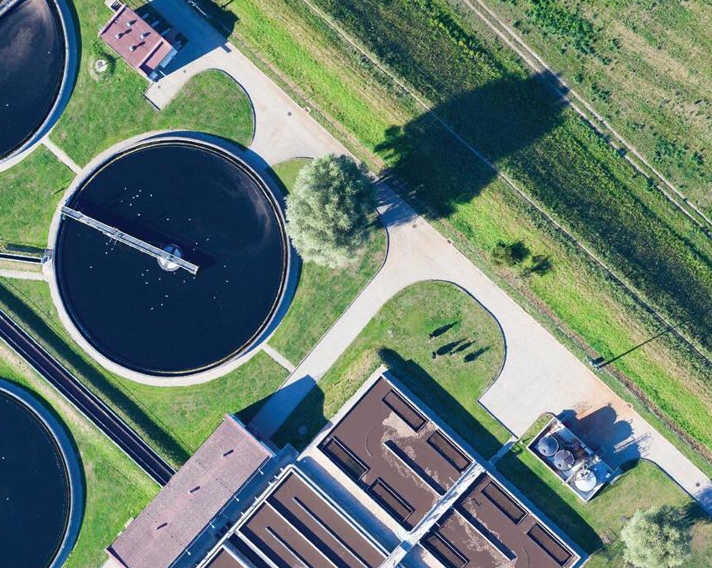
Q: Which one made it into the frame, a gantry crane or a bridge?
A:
bridge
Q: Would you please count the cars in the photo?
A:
0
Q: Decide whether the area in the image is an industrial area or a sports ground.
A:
industrial area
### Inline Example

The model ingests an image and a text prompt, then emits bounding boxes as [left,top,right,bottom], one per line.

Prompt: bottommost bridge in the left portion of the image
[61,205,200,272]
